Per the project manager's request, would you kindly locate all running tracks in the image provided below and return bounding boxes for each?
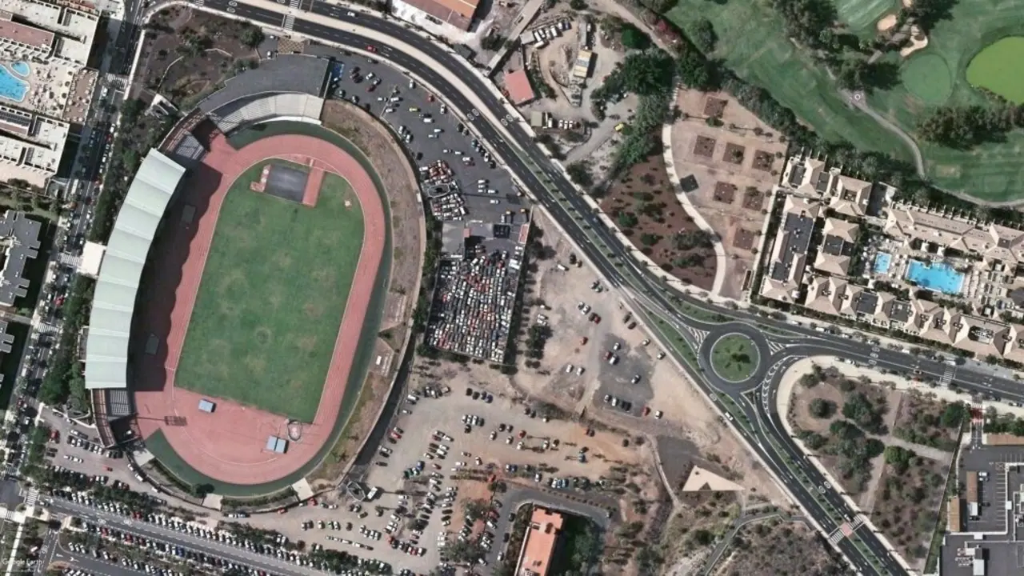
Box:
[134,129,385,484]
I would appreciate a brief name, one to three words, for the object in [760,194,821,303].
house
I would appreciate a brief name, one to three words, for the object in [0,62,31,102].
swimming pool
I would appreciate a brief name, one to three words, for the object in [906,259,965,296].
swimming pool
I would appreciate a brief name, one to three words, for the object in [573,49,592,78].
building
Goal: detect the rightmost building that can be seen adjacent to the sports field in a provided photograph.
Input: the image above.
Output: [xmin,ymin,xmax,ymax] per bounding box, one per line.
[196,53,329,115]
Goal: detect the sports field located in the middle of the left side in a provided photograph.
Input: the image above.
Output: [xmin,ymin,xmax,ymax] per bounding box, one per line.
[174,155,365,423]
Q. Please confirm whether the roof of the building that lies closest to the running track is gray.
Yes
